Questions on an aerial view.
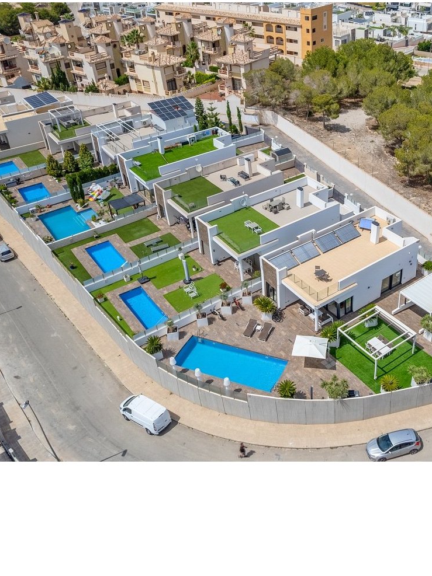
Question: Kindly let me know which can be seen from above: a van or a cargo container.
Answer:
van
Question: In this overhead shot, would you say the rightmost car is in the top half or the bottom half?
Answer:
bottom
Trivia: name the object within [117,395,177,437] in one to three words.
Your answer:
van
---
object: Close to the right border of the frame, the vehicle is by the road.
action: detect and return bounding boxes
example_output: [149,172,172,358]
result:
[366,422,424,457]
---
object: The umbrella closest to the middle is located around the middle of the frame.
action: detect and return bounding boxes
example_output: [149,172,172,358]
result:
[181,260,193,286]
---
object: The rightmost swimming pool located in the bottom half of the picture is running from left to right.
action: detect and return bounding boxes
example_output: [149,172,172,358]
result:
[177,331,288,392]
